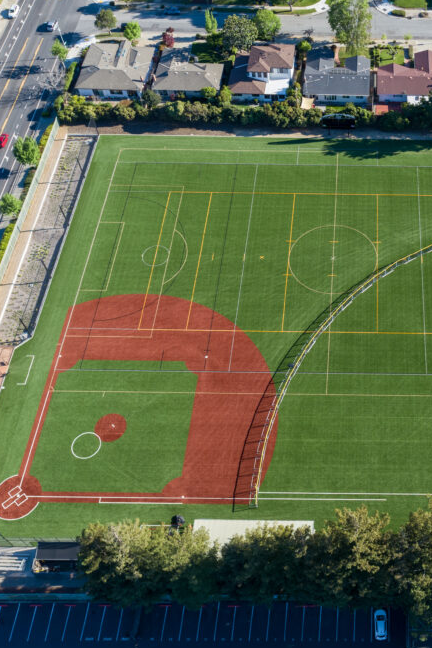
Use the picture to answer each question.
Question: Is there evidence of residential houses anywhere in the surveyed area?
Yes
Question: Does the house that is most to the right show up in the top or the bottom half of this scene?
top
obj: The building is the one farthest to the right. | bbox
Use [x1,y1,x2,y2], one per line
[377,47,432,103]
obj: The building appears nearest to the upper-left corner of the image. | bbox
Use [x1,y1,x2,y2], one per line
[75,37,154,97]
